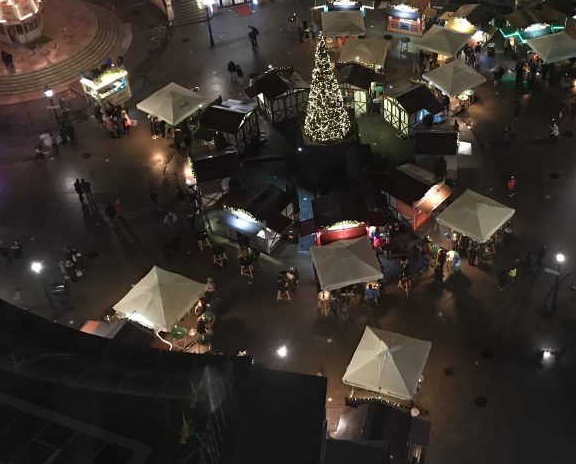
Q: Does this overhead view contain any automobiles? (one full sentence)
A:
No, no automobile can be seen from above.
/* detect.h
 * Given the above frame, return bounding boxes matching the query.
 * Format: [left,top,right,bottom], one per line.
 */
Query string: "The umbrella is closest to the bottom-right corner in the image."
[343,326,432,402]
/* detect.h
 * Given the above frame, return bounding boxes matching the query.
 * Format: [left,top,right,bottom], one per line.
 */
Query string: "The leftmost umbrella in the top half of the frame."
[135,84,208,135]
